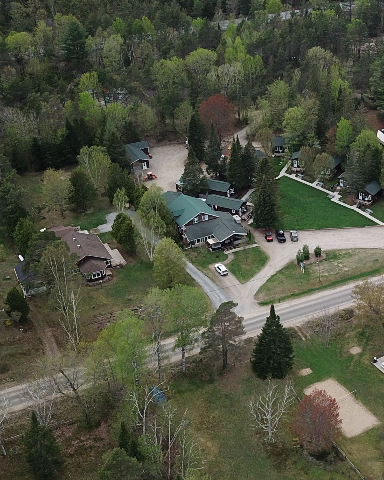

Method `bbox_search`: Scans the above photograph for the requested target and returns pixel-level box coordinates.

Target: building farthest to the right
[356,180,384,207]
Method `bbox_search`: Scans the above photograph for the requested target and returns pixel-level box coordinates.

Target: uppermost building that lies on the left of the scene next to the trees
[121,141,149,172]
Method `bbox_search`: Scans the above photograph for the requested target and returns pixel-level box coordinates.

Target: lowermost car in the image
[214,264,229,277]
